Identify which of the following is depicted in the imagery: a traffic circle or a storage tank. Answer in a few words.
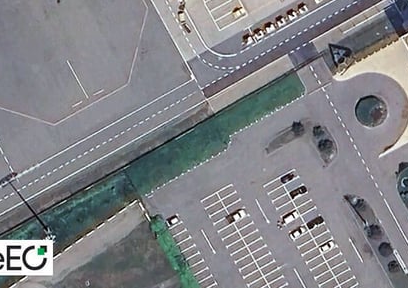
traffic circle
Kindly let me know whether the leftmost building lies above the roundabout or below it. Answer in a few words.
above it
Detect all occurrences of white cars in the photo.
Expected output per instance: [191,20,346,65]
[321,241,335,252]
[290,227,306,239]
[283,212,299,223]
[167,216,180,226]
[232,209,247,221]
